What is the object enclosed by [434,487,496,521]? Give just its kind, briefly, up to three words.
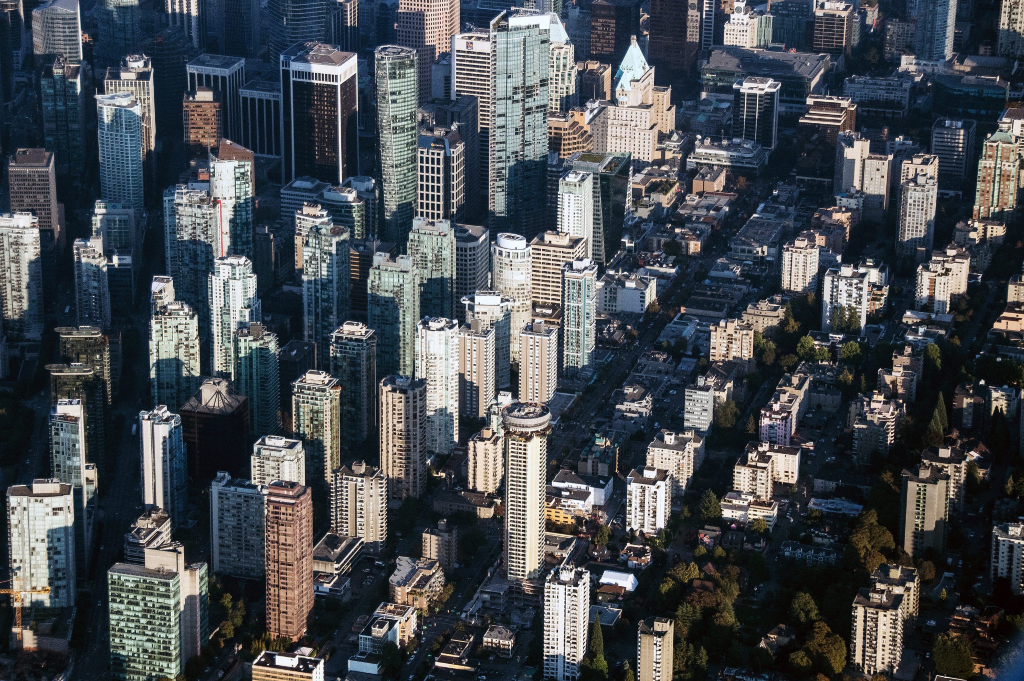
building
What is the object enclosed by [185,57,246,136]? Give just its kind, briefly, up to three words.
building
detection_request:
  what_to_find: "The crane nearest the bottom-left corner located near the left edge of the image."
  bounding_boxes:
[0,578,52,656]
